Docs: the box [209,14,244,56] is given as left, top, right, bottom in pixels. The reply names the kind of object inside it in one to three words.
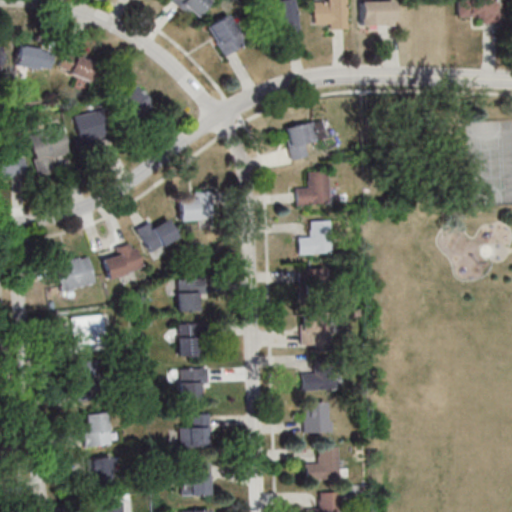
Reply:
house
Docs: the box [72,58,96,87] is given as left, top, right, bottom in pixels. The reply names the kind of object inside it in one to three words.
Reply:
house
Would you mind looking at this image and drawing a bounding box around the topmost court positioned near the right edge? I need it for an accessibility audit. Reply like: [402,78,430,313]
[466,121,512,203]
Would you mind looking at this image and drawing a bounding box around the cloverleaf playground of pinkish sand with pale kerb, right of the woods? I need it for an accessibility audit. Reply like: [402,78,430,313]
[436,222,512,282]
